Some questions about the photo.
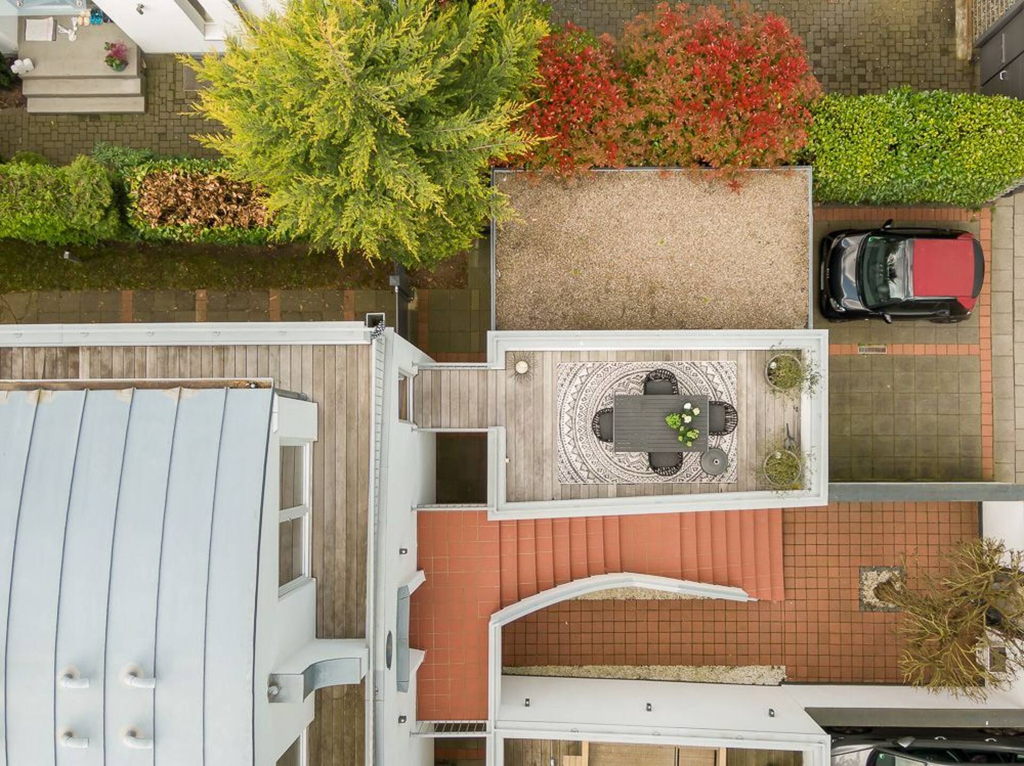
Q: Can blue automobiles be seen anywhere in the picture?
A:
No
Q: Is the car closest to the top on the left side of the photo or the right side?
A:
right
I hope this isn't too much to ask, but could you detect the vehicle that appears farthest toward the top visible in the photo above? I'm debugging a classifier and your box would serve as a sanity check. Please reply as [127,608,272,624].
[819,215,984,329]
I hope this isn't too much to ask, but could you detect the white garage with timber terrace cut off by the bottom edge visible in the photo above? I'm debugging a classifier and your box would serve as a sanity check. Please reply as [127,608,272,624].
[488,678,831,766]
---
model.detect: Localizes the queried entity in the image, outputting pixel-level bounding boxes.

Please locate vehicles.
[824,729,1024,766]
[819,215,984,329]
